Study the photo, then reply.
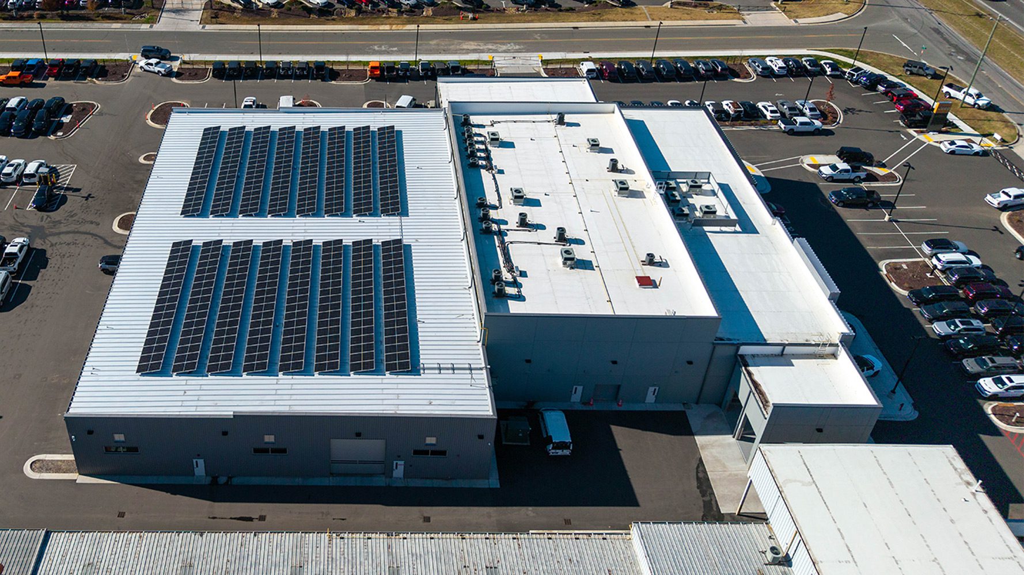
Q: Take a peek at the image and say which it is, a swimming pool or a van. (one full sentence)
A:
It is a van that can be seen here.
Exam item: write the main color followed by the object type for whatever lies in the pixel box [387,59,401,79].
black vehicle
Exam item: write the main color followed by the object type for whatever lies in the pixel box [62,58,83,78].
black vehicle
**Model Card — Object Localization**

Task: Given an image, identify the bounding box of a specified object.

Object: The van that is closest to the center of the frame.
[536,406,573,459]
